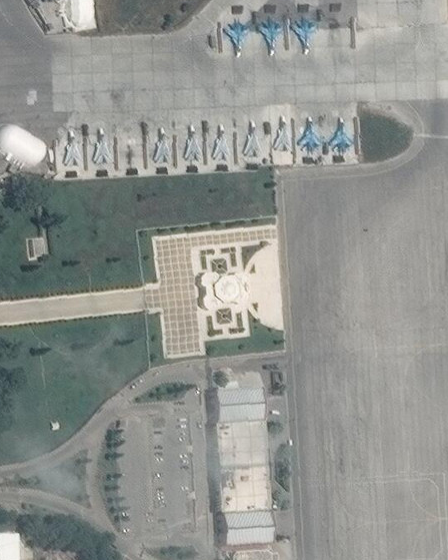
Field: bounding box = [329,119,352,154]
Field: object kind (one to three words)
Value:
airplane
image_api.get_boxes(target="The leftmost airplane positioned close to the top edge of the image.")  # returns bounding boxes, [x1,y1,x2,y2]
[224,19,250,58]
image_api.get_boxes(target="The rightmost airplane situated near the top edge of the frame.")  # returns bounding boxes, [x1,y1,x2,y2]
[290,17,315,55]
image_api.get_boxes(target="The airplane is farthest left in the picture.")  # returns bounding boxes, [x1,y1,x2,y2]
[64,130,83,165]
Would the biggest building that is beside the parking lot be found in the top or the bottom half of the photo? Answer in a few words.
bottom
